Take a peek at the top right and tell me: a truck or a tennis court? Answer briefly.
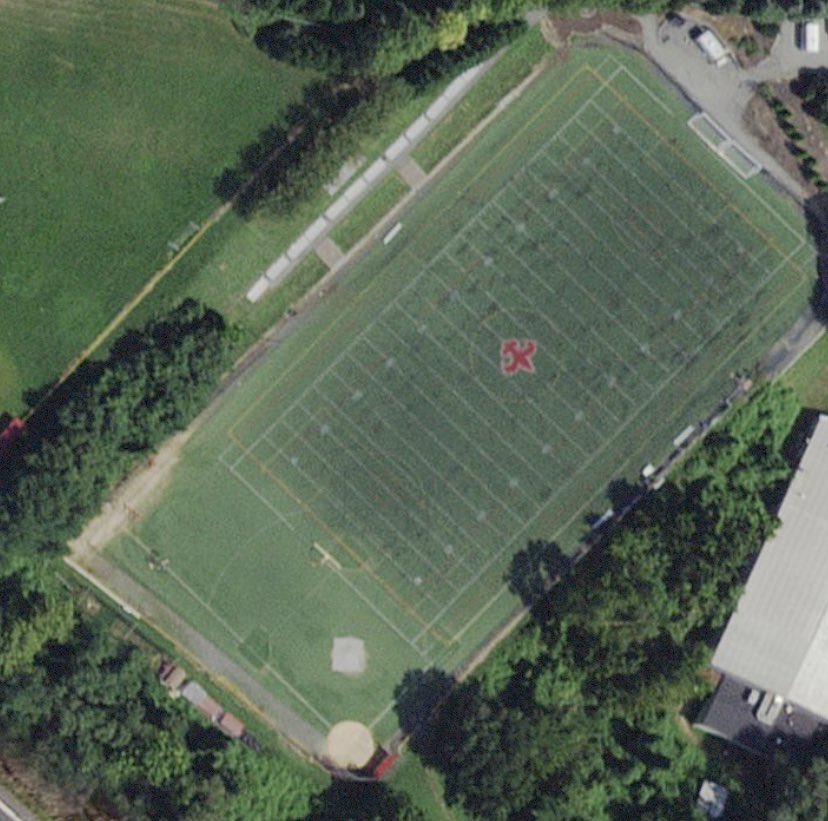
truck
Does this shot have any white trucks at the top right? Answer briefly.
Yes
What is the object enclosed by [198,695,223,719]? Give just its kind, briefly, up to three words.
shed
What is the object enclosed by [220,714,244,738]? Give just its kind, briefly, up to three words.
shed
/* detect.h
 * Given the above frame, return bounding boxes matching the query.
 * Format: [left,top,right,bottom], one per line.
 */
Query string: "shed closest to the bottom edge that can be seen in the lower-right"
[697,781,729,818]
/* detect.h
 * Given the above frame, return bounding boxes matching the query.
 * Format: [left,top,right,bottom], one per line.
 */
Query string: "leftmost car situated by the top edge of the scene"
[664,9,687,28]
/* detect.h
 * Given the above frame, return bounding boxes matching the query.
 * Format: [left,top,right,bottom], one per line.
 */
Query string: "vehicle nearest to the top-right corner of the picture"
[806,22,821,53]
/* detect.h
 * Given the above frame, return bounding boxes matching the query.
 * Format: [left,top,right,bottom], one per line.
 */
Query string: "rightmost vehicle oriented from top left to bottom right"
[698,30,730,68]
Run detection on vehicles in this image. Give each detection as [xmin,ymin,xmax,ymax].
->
[806,22,821,53]
[664,9,687,28]
[698,30,730,68]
